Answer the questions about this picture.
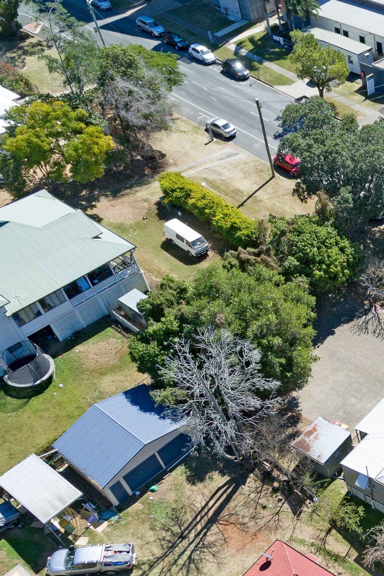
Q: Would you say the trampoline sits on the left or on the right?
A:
left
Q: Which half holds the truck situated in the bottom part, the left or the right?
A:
left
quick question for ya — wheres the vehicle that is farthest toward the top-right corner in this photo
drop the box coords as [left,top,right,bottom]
[225,63,247,78]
